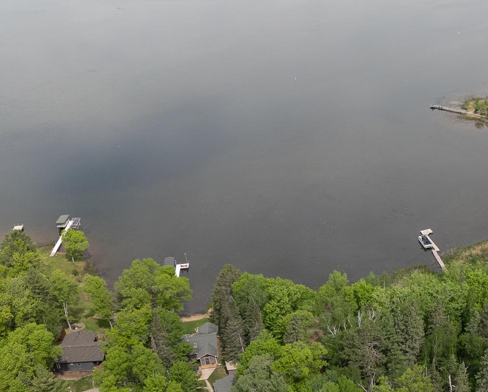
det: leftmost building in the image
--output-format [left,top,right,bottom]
[53,331,108,372]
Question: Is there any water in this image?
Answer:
Yes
